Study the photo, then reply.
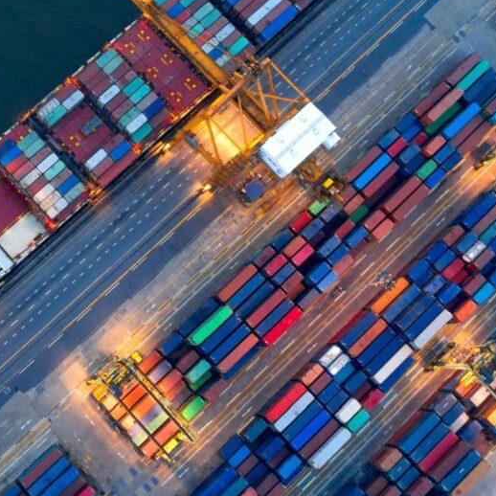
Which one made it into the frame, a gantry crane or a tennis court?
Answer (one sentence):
Visible in the photo is a gantry crane.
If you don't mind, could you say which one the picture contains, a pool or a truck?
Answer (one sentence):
Of the two, only a truck appears.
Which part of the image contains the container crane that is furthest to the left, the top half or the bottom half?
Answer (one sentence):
Seen from above, the container crane that is furthest to the left lies in the bottom half of the view.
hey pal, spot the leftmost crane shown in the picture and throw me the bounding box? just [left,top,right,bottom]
[86,357,199,465]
